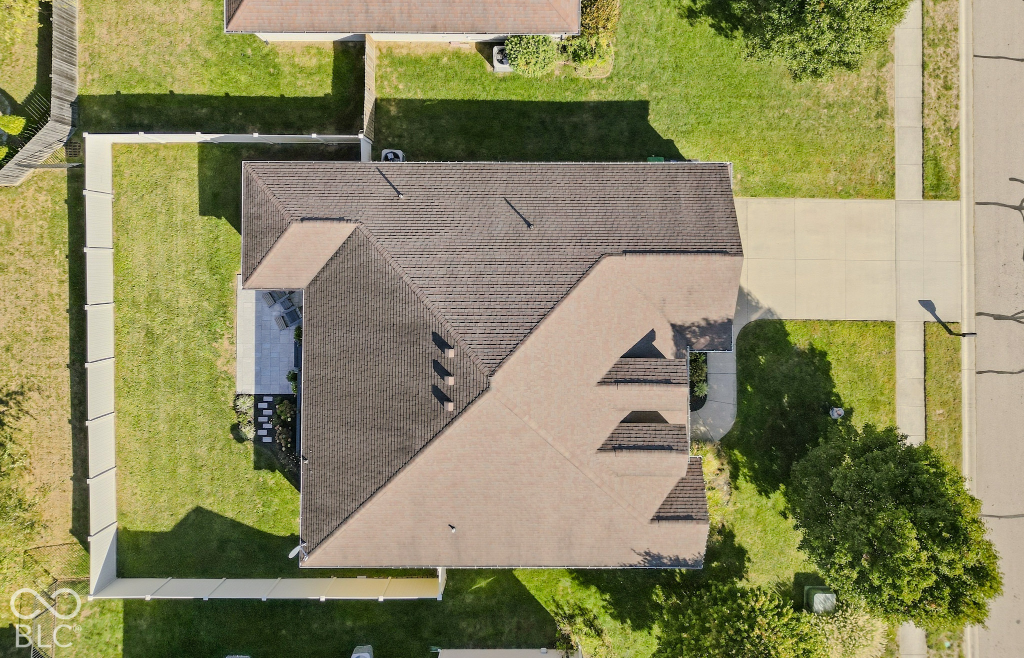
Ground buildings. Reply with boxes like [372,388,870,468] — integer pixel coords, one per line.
[242,160,744,570]
[225,0,581,42]
[434,633,585,658]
